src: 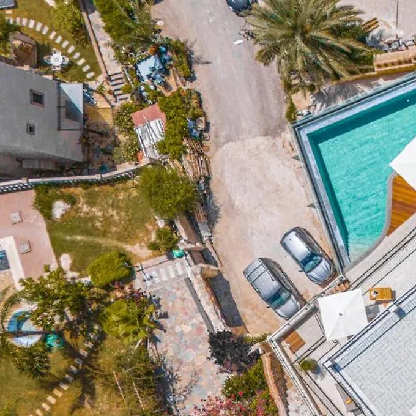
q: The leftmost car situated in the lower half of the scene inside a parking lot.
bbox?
[244,251,303,323]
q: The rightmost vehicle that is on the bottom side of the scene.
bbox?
[281,223,335,288]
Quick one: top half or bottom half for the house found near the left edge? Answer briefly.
top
